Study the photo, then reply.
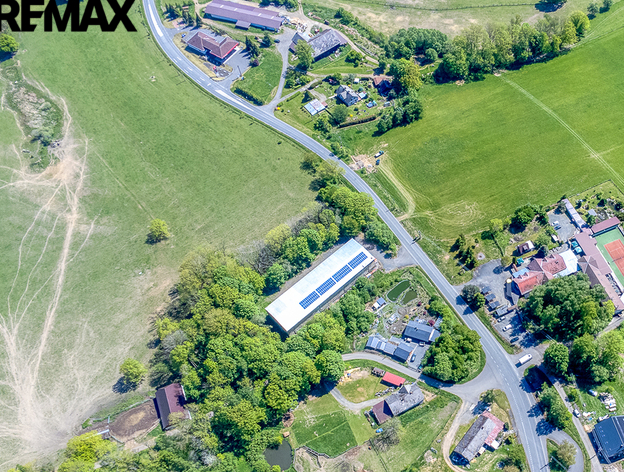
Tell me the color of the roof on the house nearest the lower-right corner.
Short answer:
blue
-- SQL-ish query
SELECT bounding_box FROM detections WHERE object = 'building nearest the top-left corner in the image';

[186,33,239,62]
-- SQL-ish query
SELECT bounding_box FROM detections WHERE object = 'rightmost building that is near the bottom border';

[591,416,624,461]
